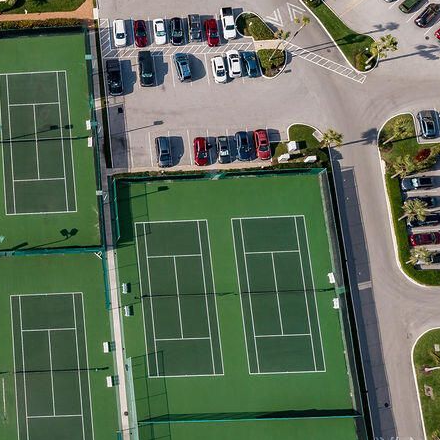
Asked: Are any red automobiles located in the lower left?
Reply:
No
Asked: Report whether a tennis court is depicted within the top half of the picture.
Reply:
Yes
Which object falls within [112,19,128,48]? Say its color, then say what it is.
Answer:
white car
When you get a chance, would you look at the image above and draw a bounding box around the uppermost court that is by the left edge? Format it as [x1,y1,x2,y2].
[0,34,101,253]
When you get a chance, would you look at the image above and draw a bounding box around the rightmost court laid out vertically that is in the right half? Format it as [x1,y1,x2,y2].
[215,174,355,421]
